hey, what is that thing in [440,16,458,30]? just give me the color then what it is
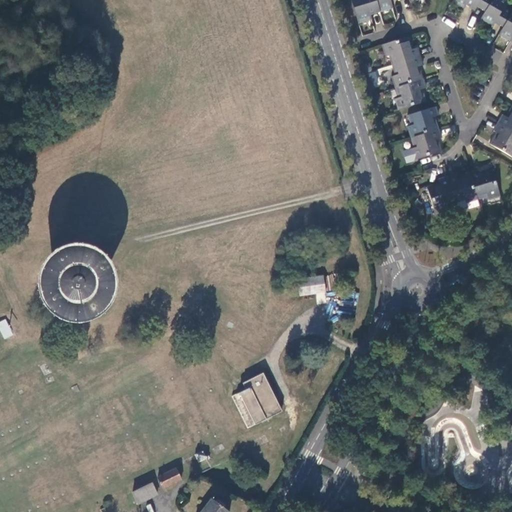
white vehicle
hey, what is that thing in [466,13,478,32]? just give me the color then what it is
white vehicle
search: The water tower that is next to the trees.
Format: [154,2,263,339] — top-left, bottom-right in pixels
[38,243,119,324]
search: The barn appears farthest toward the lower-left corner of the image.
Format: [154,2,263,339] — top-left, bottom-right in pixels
[131,480,158,506]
